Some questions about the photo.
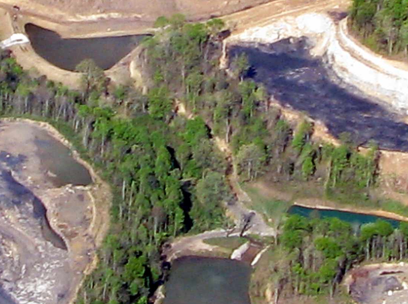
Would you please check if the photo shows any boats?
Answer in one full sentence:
No, the photo shows no boat.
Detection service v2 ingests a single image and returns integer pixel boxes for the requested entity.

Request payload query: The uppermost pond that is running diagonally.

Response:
[35,134,91,186]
